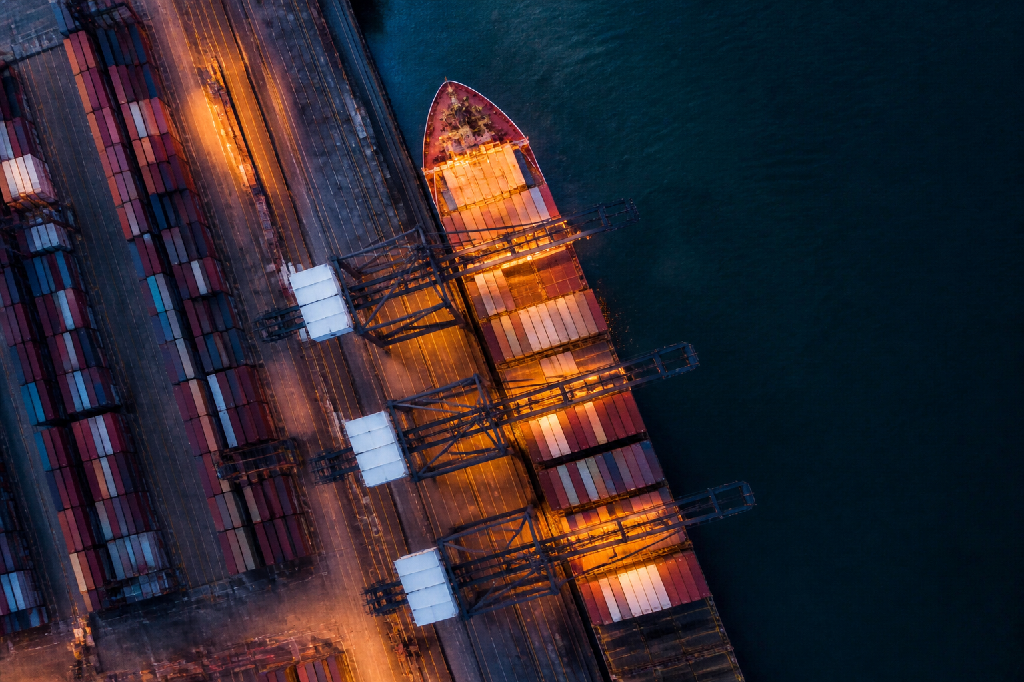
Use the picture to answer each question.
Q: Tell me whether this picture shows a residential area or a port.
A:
port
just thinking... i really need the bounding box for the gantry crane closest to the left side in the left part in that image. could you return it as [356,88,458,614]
[0,196,99,253]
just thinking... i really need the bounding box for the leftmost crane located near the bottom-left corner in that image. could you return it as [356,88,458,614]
[90,556,202,612]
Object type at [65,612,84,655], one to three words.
vehicle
